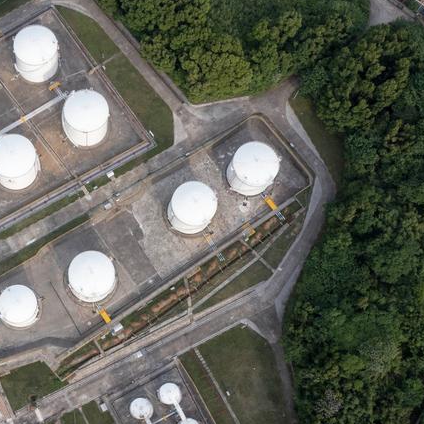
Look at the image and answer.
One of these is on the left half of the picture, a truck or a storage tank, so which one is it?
storage tank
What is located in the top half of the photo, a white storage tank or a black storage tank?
white storage tank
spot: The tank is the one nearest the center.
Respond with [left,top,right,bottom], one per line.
[163,180,219,238]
